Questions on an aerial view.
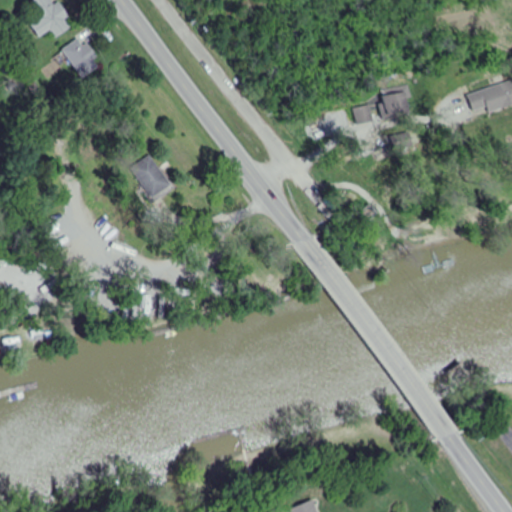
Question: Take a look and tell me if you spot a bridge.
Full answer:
Yes, there is a bridge in the image.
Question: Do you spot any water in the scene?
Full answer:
Yes, there's water in this view.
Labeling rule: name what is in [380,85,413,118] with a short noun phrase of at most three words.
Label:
house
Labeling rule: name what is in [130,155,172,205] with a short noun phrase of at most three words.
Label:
house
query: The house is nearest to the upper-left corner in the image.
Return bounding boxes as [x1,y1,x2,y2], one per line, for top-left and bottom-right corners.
[29,0,73,40]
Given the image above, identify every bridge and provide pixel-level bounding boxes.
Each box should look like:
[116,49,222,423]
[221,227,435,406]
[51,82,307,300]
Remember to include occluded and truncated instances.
[288,229,454,444]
